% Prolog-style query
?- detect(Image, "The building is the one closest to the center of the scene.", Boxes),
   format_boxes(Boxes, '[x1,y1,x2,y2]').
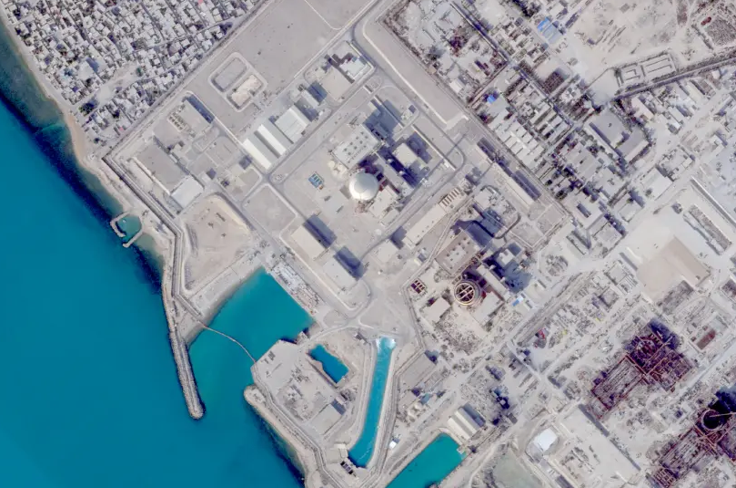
[372,240,399,264]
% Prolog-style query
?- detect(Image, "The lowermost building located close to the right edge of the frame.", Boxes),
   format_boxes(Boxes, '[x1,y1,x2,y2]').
[661,431,709,477]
